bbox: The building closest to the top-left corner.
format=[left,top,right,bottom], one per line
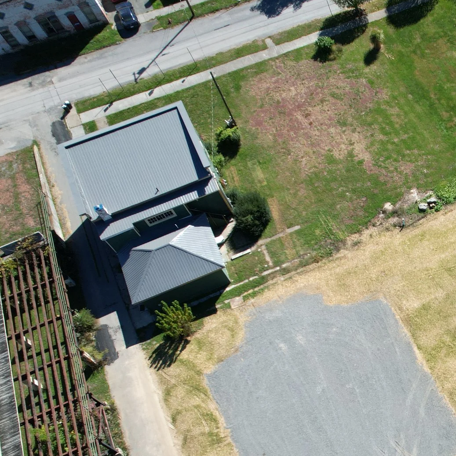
[0,0,109,55]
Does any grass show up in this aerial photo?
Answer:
Yes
